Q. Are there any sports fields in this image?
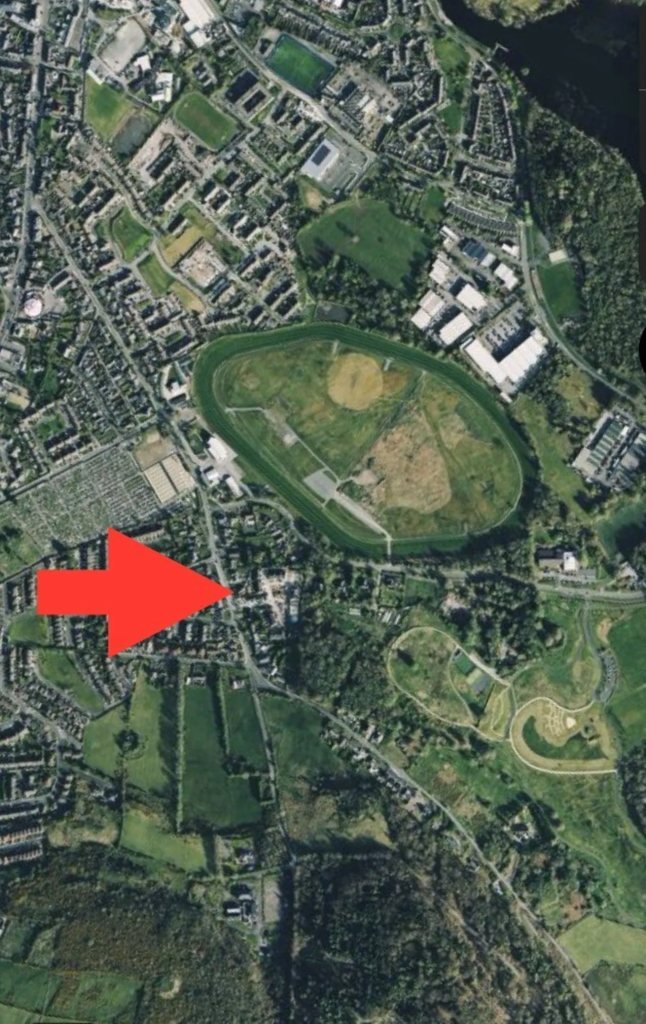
Yes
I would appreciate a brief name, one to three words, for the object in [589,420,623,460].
house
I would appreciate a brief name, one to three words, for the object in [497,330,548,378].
building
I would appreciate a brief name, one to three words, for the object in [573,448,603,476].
house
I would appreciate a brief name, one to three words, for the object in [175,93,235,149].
sports field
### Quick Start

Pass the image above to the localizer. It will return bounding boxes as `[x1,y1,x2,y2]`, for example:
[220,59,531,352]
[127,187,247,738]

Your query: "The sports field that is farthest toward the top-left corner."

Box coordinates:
[85,74,129,141]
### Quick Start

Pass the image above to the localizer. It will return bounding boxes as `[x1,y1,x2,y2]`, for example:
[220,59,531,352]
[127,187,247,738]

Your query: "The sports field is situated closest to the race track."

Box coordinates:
[539,261,581,319]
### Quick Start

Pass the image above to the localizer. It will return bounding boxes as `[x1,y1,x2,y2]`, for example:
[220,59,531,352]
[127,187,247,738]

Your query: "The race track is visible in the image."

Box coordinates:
[194,322,528,559]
